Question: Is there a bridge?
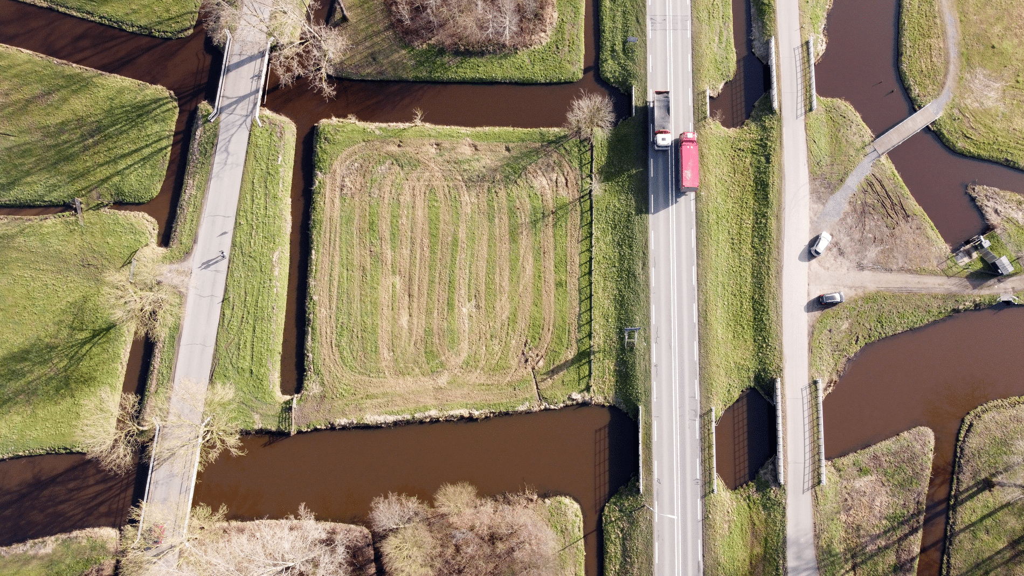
Yes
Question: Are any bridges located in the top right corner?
Yes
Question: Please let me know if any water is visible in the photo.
Yes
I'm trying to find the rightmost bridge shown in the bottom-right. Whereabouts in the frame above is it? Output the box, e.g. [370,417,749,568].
[766,371,827,492]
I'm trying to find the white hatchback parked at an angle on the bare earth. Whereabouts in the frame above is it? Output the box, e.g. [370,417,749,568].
[810,231,832,256]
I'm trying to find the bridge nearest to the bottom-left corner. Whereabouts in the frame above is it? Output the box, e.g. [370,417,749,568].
[131,415,213,547]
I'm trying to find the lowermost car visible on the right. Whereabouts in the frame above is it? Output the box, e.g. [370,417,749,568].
[817,291,846,306]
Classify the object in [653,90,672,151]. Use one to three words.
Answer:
vehicle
